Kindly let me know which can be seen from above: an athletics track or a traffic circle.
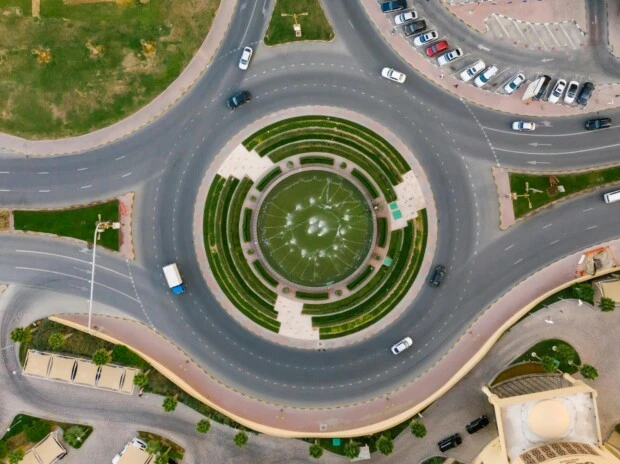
traffic circle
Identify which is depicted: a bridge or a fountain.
fountain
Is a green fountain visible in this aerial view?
Yes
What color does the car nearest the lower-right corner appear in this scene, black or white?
black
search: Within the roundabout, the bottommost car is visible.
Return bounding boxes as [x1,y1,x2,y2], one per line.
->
[389,335,414,356]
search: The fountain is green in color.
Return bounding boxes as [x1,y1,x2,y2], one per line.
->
[254,165,378,290]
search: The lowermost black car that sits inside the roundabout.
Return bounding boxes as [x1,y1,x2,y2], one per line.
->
[430,263,447,288]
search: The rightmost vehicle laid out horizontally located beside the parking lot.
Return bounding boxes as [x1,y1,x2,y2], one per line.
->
[582,116,612,131]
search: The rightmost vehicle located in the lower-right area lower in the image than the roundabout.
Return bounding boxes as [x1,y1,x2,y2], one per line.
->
[464,414,490,435]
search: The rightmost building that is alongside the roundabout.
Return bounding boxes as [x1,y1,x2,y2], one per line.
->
[463,371,620,464]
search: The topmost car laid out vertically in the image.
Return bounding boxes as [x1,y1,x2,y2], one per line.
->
[239,46,252,71]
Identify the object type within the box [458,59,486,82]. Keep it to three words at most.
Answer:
car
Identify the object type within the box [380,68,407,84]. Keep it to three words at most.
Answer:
car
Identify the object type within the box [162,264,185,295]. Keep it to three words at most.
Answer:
truck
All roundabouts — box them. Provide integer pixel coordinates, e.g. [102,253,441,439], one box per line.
[144,56,488,400]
